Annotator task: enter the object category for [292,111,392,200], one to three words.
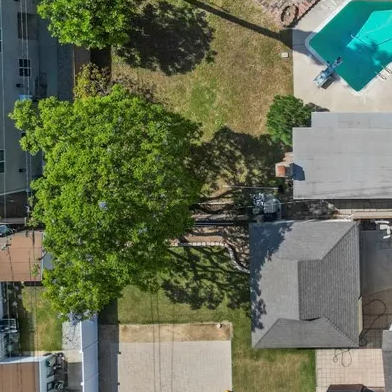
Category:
building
